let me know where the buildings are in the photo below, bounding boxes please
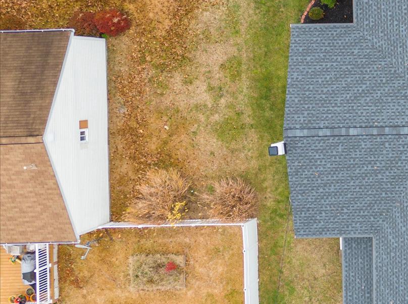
[270,0,408,304]
[0,27,110,247]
